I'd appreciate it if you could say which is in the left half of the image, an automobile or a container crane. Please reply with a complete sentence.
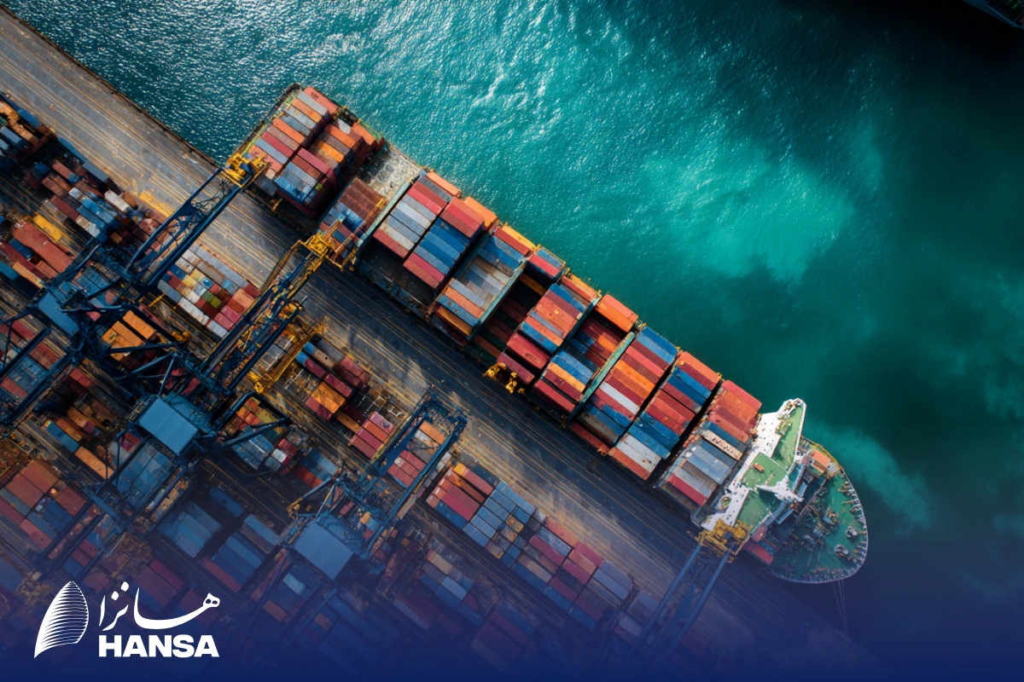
Looking in the left half of the image, you will find a container crane.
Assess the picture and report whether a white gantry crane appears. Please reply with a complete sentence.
No, no white gantry crane can be seen from above.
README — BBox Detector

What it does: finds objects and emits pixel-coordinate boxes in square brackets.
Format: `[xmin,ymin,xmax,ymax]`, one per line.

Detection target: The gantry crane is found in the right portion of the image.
[560,508,749,682]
